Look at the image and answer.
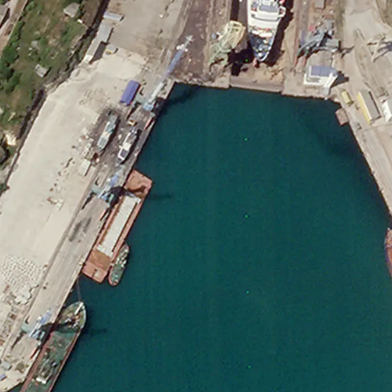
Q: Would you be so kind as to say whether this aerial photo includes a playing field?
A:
No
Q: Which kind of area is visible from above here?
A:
port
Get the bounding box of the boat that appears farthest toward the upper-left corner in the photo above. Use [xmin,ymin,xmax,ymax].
[100,114,119,151]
